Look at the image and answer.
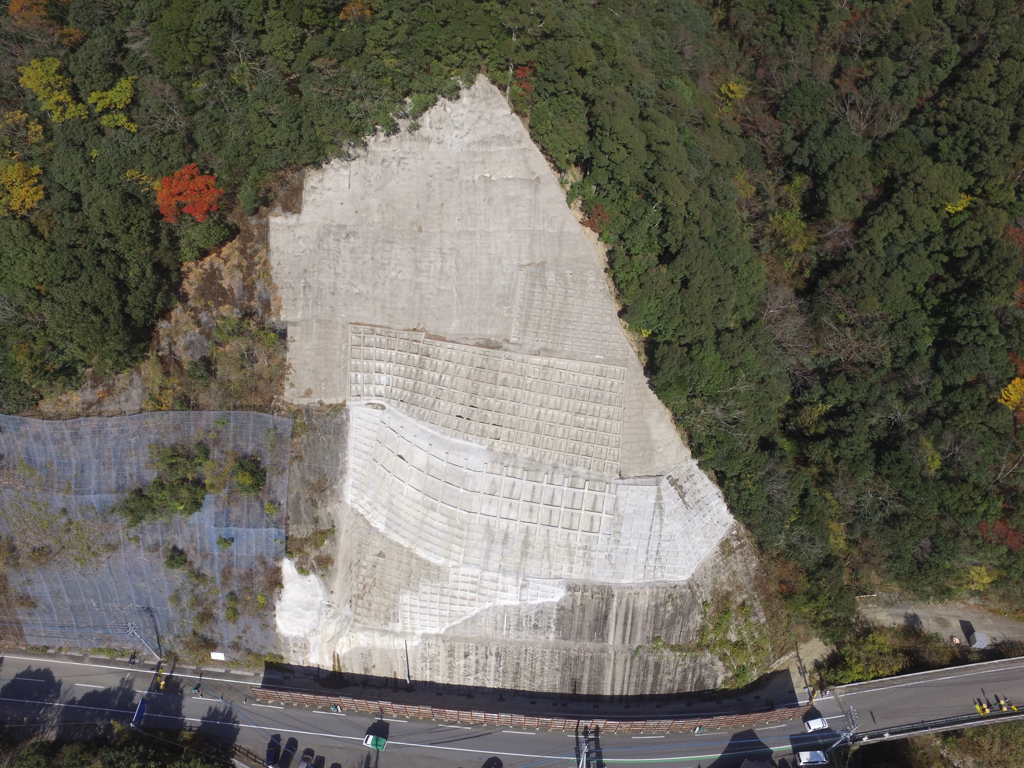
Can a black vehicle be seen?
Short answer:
Yes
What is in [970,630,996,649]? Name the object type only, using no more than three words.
shed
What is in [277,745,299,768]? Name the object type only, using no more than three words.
car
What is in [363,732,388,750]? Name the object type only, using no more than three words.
vehicle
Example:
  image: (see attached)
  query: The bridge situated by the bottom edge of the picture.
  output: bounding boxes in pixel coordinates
[825,653,1024,749]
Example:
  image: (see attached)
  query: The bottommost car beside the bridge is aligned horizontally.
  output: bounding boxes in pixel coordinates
[794,750,828,767]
